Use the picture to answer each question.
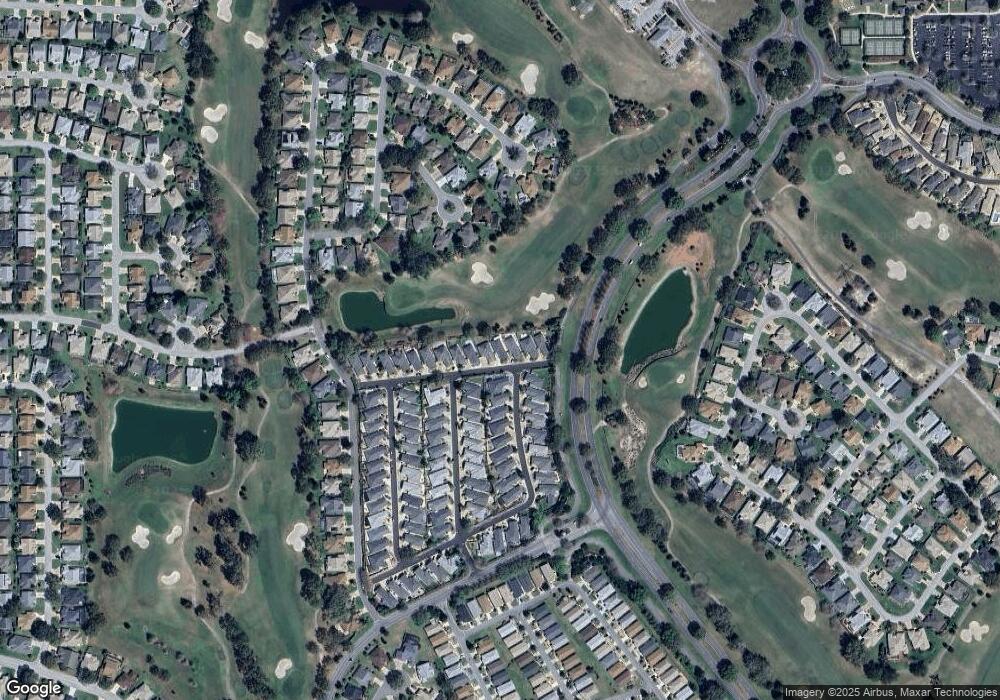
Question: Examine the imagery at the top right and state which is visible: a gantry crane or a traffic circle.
traffic circle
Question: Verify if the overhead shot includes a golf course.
Yes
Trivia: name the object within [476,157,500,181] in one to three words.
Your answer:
house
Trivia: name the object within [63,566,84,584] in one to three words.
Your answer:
house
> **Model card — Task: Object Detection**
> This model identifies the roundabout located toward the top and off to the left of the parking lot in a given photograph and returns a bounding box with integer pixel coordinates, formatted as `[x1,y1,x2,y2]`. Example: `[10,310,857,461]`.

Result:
[744,30,823,112]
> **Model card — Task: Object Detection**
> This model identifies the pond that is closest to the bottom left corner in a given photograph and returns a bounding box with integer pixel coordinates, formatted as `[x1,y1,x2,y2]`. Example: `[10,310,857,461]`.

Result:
[111,399,218,474]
